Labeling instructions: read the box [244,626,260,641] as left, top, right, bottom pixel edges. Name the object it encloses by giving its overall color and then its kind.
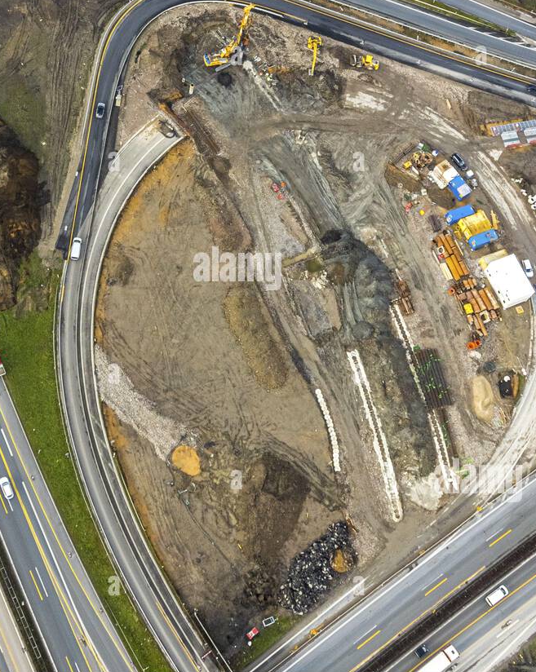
red car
